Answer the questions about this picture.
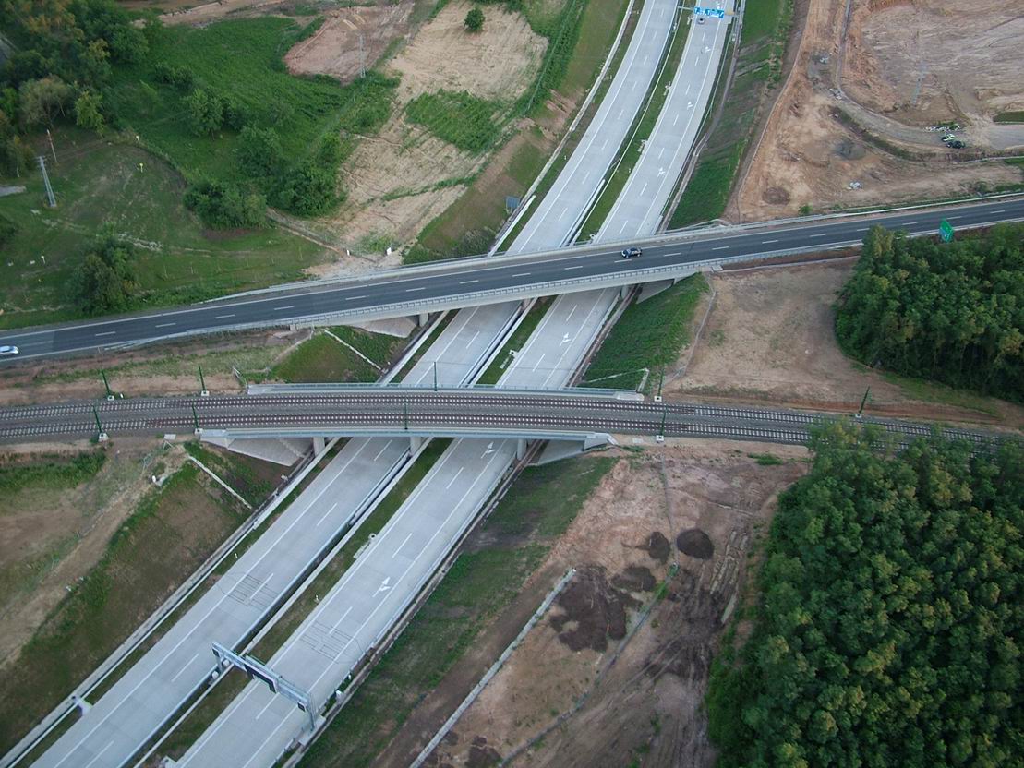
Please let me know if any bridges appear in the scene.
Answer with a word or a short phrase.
Yes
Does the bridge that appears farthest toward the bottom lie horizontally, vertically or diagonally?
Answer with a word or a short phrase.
horizontally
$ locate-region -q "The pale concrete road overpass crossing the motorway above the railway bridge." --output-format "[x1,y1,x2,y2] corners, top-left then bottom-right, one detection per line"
[292,226,736,337]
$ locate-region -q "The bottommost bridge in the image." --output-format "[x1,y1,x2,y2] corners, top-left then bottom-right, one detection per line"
[173,383,667,466]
